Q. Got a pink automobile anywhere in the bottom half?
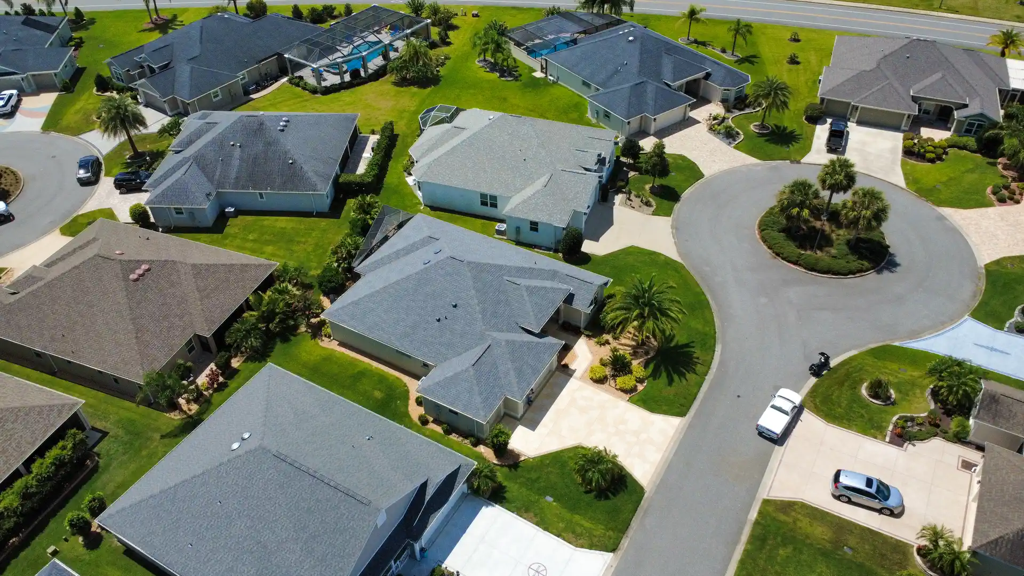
No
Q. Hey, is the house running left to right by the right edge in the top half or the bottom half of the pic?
top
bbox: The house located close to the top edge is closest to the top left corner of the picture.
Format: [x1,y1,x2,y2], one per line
[0,14,87,96]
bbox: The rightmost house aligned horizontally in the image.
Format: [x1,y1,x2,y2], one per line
[818,35,1024,142]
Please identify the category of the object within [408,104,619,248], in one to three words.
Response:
house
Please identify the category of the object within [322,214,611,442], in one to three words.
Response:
house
